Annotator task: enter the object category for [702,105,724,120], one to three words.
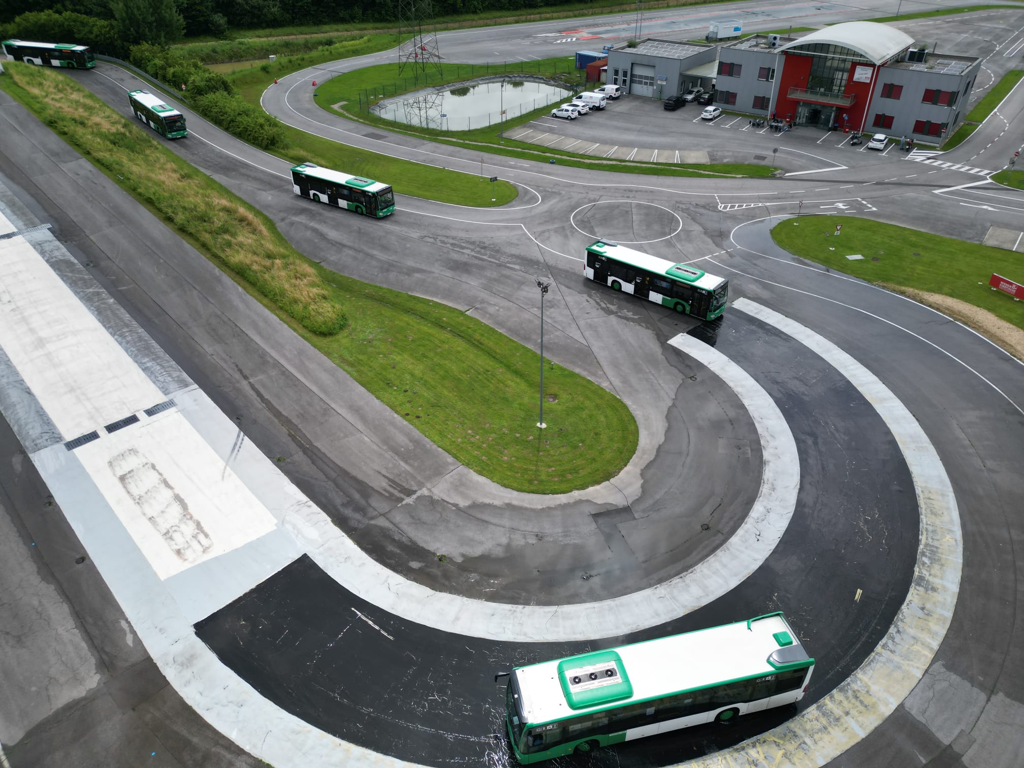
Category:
car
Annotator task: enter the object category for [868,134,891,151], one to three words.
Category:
car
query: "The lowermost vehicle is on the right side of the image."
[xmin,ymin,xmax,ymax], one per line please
[499,611,814,762]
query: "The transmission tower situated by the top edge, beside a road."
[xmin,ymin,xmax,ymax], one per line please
[399,0,443,81]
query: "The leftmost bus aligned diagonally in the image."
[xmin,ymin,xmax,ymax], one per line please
[130,91,188,138]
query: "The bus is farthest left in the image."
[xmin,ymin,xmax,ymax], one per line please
[5,45,94,69]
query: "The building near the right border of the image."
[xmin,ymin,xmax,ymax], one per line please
[713,20,981,145]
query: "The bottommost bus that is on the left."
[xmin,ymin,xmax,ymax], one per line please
[290,159,400,219]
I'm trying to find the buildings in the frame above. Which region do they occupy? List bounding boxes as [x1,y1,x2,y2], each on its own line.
[713,20,981,145]
[607,37,713,96]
